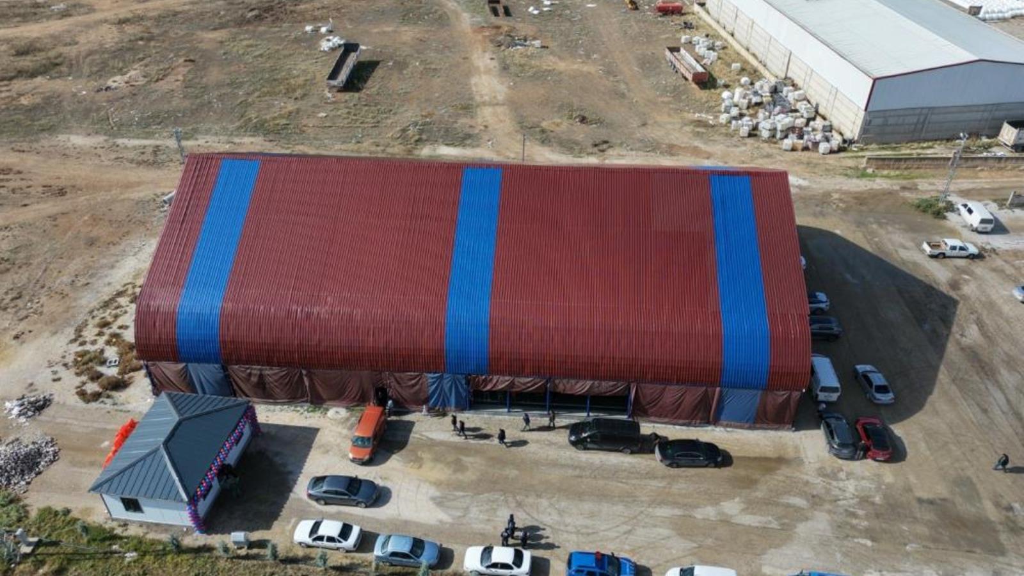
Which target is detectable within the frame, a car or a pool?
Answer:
car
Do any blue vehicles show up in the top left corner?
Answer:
No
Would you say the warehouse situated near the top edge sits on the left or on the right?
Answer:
right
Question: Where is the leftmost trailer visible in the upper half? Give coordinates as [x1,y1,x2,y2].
[326,43,361,92]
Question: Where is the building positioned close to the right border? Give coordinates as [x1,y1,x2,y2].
[699,0,1024,142]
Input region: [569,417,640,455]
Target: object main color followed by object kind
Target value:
black vehicle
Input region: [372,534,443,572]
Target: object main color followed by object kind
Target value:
blue car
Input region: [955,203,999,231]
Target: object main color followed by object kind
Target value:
white vehicle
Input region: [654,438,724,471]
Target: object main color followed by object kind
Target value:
black car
